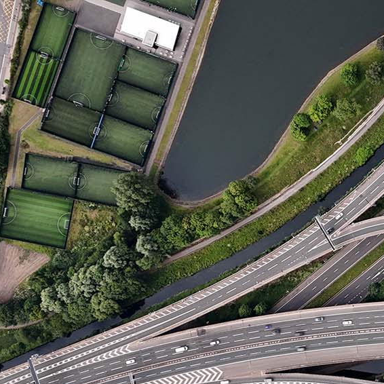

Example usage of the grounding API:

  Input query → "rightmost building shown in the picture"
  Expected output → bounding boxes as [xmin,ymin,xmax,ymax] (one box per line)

[121,6,182,52]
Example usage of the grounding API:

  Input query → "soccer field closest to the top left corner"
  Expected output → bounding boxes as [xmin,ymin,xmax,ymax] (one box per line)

[28,1,75,58]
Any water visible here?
Yes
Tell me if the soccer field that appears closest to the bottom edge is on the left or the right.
left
